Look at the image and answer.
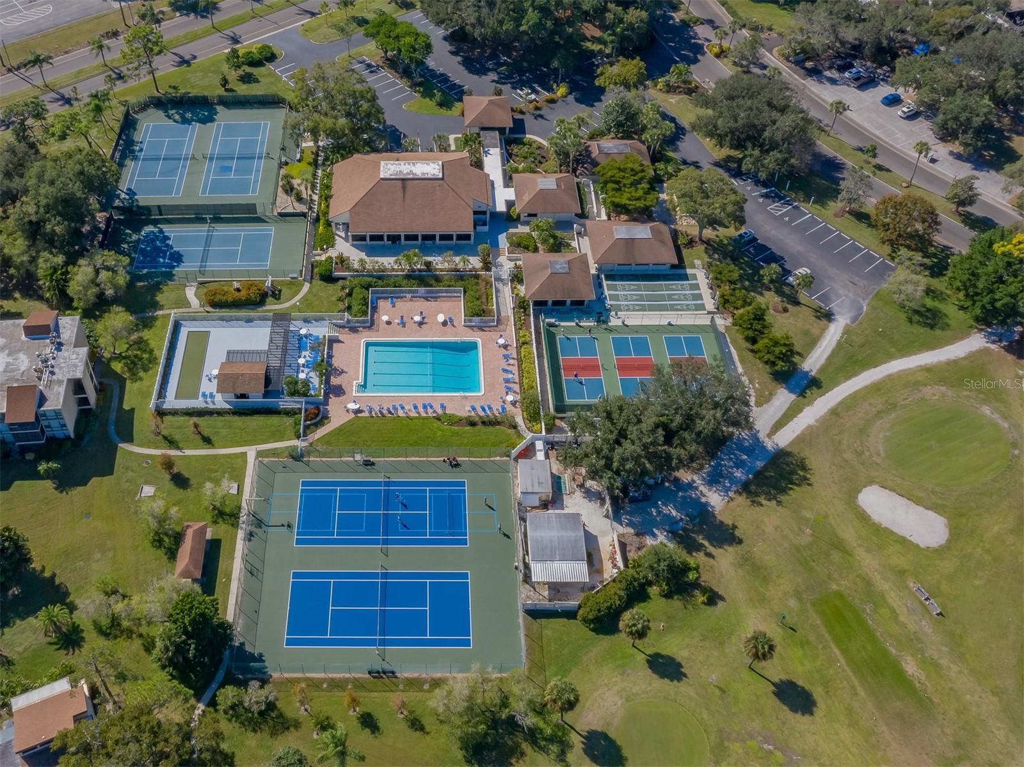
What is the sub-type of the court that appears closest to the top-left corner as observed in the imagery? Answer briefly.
tennis court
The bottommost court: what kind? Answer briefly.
tennis court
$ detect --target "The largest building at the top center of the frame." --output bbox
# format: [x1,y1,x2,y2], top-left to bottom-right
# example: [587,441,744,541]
[329,153,492,246]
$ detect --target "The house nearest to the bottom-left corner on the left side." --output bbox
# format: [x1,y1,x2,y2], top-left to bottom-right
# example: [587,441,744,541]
[11,678,96,760]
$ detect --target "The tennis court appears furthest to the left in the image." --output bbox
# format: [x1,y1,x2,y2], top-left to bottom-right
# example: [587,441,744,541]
[127,123,198,196]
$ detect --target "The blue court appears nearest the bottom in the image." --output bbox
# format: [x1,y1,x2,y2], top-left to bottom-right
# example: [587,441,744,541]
[284,561,472,655]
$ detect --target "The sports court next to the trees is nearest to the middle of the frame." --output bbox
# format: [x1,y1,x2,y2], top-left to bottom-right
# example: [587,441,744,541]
[558,336,605,400]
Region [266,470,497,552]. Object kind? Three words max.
tennis court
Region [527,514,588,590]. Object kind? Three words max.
shed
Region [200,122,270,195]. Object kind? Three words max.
tennis court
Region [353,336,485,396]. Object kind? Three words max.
swimming pool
